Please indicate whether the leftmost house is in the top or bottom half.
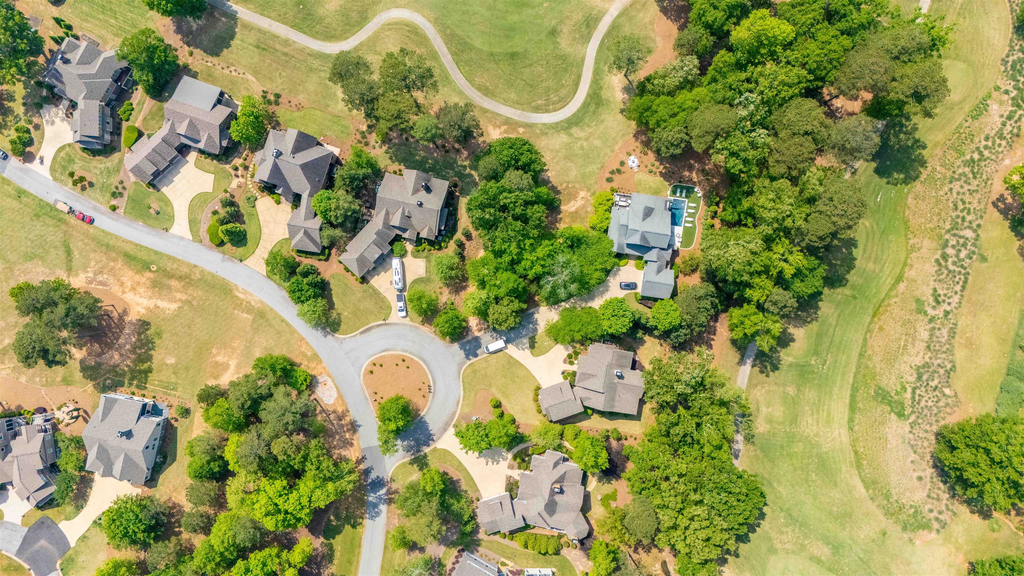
bottom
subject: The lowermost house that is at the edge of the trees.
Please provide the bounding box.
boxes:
[453,547,499,576]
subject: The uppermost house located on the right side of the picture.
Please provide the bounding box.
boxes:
[608,193,675,297]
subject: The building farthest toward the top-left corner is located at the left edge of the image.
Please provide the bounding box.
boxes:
[46,37,130,149]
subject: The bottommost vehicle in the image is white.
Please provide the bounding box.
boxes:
[483,338,508,354]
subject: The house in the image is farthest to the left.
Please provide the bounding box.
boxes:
[0,413,58,506]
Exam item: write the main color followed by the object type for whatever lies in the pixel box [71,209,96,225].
red vehicle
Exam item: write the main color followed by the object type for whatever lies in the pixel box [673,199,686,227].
blue swimming pool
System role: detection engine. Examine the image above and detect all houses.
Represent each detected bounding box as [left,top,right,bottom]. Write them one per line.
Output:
[46,37,130,149]
[608,193,675,297]
[128,75,235,185]
[250,129,341,253]
[477,451,588,540]
[0,413,58,506]
[539,343,645,421]
[453,547,499,576]
[79,392,170,484]
[336,170,449,282]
